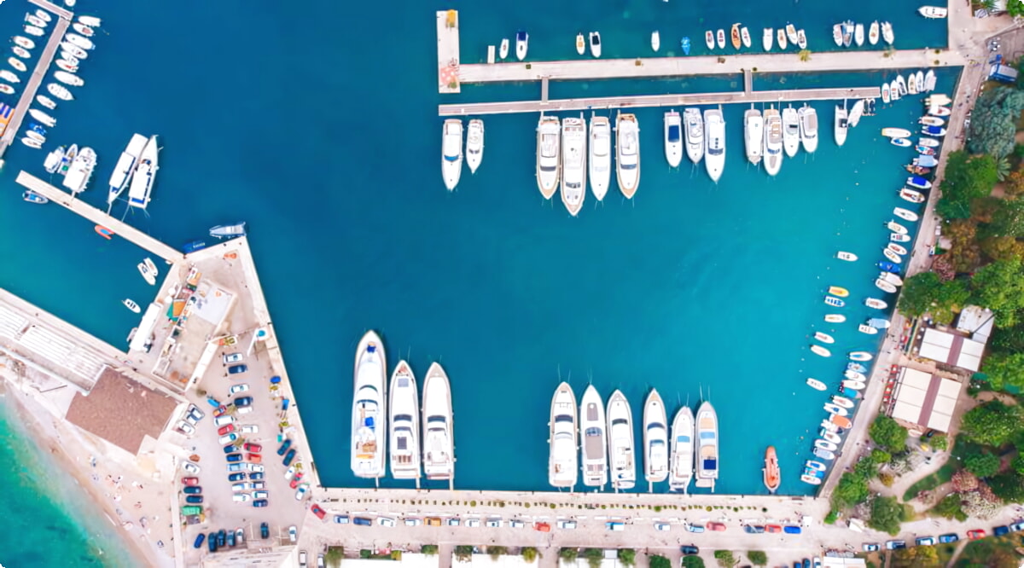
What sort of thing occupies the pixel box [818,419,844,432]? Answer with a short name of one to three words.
boat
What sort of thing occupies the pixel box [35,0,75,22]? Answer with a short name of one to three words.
pier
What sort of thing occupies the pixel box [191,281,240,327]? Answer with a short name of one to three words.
building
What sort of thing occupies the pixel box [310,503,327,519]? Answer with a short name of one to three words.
car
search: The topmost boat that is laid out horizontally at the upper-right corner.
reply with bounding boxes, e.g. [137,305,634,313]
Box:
[919,5,948,18]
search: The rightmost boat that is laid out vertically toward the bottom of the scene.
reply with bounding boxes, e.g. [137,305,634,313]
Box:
[762,447,780,495]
